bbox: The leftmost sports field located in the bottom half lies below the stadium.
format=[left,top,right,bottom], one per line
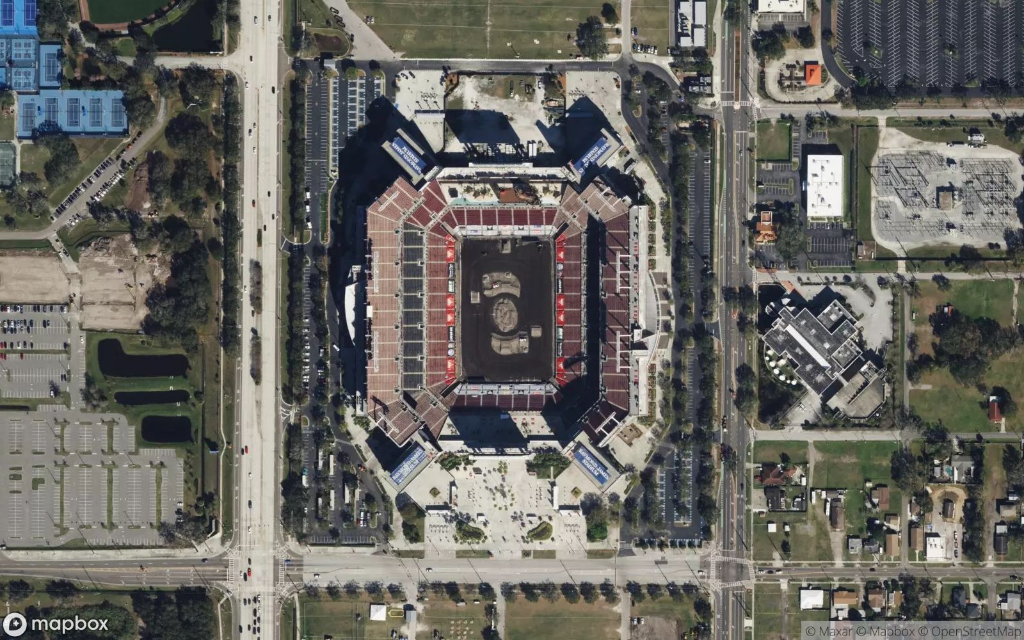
[301,599,410,640]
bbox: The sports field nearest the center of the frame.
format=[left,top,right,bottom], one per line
[455,236,556,385]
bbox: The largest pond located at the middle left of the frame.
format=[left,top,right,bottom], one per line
[98,338,189,377]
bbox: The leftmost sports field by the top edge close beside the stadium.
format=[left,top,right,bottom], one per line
[351,0,622,58]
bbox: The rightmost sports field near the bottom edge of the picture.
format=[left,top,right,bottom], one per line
[504,599,622,640]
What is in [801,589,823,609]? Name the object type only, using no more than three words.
house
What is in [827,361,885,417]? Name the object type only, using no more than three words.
building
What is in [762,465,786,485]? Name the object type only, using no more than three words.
house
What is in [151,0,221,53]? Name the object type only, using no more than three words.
pond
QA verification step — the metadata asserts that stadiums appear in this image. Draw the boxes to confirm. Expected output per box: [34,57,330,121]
[345,128,666,492]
